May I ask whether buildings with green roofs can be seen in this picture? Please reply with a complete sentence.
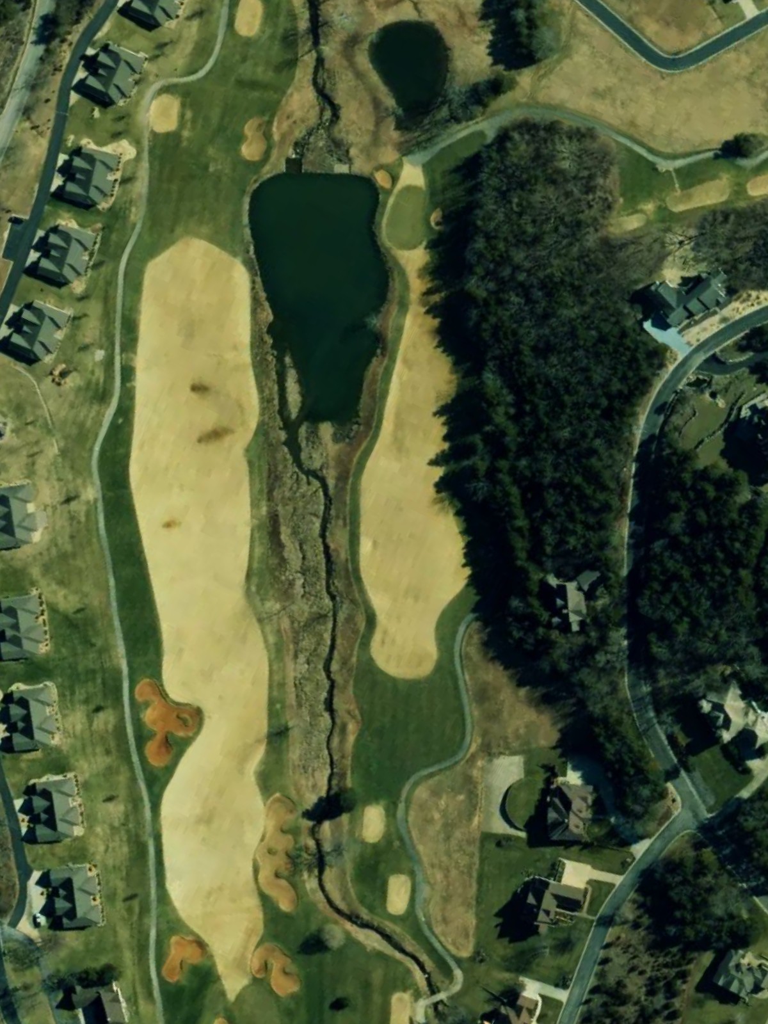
Yes, a building with a green roof appears in the view.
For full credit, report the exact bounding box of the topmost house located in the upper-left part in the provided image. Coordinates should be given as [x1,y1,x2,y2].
[130,0,182,31]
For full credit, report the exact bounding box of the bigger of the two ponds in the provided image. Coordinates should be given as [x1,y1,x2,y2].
[248,172,389,444]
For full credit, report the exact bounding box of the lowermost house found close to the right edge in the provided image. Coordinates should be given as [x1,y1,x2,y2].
[709,950,768,1009]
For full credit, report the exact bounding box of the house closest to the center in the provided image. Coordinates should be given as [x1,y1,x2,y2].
[546,568,605,633]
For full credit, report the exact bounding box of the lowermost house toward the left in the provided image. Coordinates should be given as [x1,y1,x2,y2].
[70,990,124,1024]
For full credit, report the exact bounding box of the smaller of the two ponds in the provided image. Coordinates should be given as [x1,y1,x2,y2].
[369,20,451,120]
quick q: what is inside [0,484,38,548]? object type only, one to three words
house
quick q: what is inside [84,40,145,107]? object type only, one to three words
house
